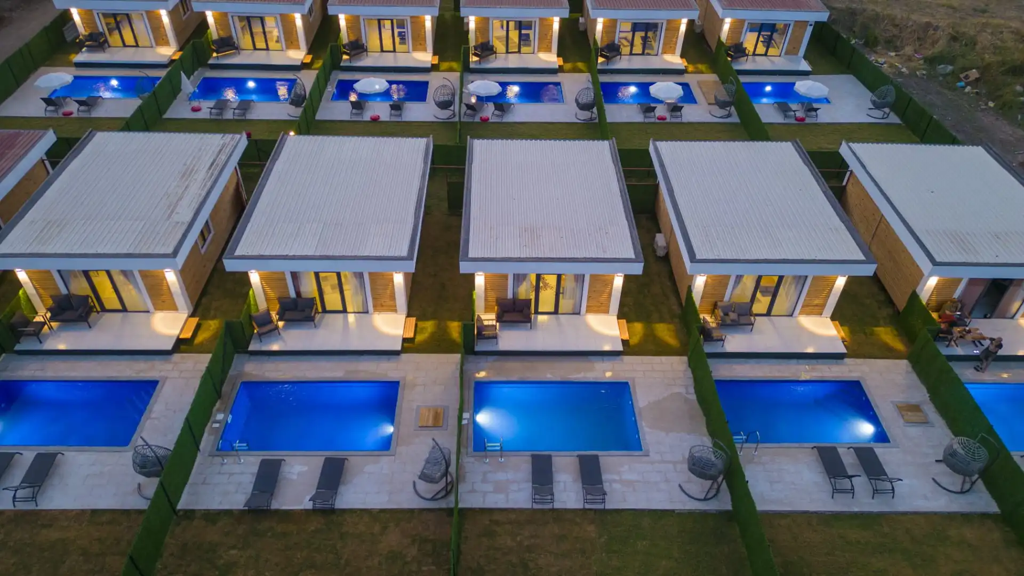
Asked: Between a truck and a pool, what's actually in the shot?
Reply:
pool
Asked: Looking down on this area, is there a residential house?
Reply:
Yes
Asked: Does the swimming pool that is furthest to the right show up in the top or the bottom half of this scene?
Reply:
bottom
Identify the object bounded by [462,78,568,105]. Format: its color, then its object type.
blue swimming pool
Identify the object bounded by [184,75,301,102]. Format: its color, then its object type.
blue swimming pool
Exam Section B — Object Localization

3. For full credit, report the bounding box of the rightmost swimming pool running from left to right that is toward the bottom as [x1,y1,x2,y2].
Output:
[714,376,900,449]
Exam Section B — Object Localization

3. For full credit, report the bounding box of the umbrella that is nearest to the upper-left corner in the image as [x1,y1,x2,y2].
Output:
[31,74,73,115]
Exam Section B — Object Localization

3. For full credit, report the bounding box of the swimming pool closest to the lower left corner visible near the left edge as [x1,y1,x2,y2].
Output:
[0,373,169,453]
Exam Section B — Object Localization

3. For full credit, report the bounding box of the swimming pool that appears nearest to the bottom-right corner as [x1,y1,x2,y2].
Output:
[960,378,1024,458]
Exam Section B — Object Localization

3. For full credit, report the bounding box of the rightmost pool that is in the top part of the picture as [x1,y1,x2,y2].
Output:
[745,81,836,108]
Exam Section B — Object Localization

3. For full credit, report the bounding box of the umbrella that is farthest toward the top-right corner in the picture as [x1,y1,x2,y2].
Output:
[791,81,829,120]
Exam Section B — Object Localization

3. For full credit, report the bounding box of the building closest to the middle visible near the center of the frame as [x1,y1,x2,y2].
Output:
[459,135,645,357]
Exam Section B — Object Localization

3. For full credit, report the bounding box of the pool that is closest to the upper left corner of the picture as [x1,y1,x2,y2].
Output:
[43,74,165,100]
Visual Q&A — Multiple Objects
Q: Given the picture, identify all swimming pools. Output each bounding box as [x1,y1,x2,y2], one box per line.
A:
[714,376,900,449]
[745,81,836,108]
[326,77,433,104]
[603,80,703,107]
[462,78,568,105]
[0,373,169,453]
[465,376,650,458]
[207,375,407,457]
[43,74,165,100]
[960,378,1024,458]
[184,75,301,102]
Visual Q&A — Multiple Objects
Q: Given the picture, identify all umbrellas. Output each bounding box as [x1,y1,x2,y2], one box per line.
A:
[791,81,829,120]
[648,80,685,120]
[184,71,201,110]
[31,74,73,115]
[465,80,502,120]
[352,79,391,119]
